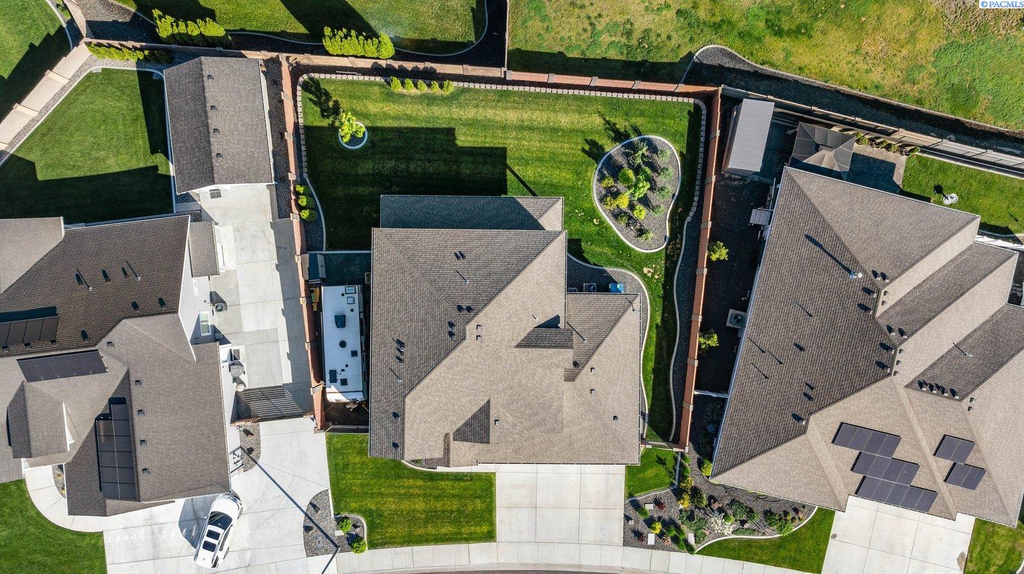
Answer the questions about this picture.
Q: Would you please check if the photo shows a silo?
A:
No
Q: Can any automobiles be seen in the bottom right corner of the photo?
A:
No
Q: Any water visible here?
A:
No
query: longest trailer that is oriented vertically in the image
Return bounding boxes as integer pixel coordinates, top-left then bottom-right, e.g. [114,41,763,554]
[321,285,369,407]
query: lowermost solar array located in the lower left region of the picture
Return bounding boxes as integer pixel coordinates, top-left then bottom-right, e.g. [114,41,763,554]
[96,405,137,501]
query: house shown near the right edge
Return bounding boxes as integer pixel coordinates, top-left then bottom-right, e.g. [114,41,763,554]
[707,165,1024,529]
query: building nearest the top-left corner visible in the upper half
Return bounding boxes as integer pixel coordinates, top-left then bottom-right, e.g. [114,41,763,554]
[162,56,279,195]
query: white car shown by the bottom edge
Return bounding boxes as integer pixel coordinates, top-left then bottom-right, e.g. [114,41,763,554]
[191,495,242,571]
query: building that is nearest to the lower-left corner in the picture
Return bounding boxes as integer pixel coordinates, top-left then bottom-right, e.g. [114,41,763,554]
[0,214,236,517]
